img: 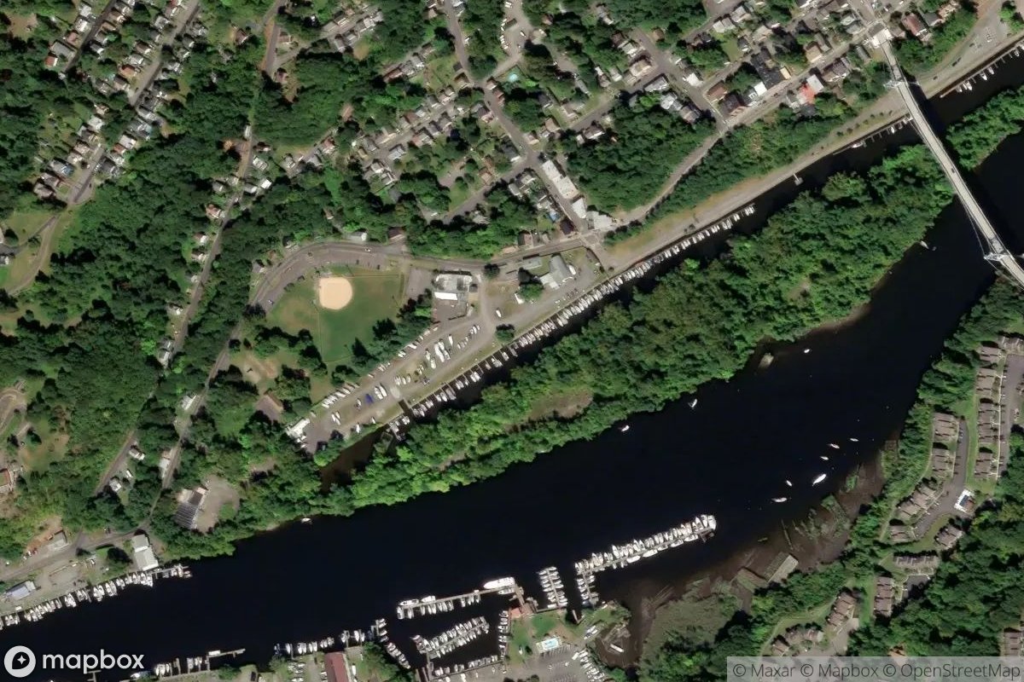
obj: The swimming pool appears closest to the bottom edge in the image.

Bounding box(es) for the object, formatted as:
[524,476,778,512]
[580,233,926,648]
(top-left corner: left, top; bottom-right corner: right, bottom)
[538,638,563,653]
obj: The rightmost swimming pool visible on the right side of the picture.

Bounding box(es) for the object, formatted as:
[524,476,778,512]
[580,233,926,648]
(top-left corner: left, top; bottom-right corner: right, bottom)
[952,487,975,513]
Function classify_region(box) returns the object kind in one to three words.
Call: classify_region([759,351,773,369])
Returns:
ship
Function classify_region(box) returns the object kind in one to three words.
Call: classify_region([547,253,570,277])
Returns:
shed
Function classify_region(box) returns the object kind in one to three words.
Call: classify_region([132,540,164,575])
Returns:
building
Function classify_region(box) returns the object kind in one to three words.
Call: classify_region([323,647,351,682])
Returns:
barn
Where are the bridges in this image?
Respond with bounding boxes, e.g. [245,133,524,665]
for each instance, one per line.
[868,21,1024,305]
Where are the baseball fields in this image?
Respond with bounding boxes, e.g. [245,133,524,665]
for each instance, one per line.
[267,269,404,362]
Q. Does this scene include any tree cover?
Yes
